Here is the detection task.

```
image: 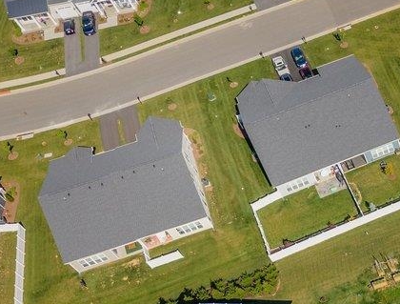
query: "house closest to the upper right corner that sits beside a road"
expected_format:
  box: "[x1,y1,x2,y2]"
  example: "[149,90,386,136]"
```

[233,55,400,197]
